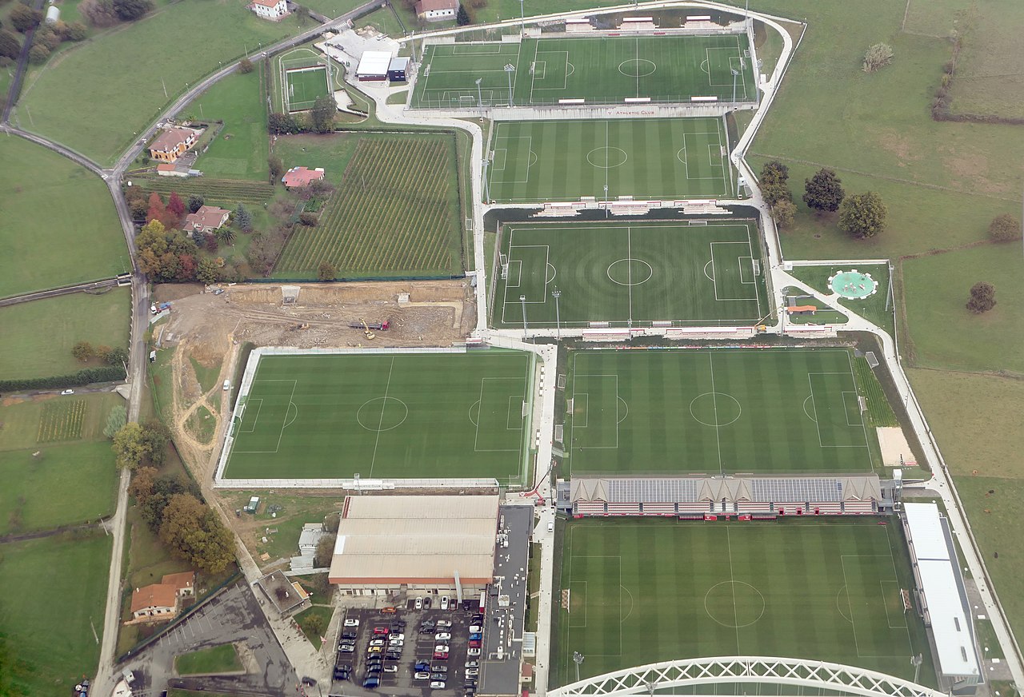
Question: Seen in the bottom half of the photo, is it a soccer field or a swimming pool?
soccer field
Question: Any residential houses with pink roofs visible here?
Yes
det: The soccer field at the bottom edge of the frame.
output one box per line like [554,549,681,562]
[552,520,943,697]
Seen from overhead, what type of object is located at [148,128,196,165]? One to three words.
house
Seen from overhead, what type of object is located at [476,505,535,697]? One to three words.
building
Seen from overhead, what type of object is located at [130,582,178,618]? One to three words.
house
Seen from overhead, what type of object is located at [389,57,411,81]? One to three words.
building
